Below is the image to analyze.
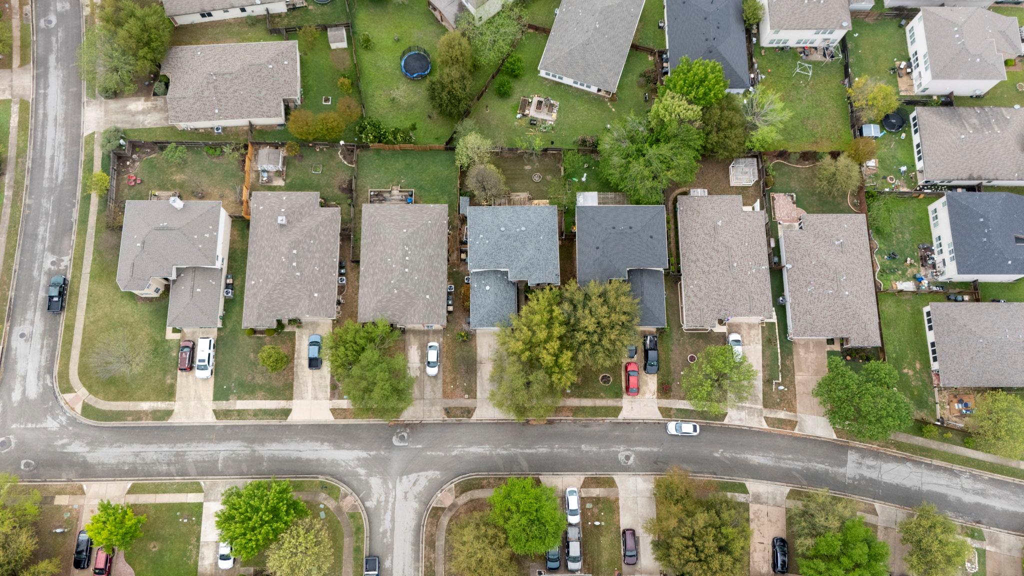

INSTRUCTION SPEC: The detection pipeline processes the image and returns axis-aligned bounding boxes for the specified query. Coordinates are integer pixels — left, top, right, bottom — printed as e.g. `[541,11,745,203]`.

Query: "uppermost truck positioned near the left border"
[47,275,69,315]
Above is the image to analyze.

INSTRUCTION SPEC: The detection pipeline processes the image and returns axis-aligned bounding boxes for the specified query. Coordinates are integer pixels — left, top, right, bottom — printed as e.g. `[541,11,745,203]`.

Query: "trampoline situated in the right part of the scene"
[886,106,914,132]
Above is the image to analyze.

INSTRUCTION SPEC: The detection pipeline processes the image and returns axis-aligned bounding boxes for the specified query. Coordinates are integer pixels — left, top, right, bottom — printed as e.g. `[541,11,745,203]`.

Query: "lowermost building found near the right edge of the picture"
[920,302,1024,388]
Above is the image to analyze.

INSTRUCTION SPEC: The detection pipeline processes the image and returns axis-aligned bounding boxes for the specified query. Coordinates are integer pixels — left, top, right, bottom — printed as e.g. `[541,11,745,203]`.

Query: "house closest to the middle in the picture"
[467,205,561,330]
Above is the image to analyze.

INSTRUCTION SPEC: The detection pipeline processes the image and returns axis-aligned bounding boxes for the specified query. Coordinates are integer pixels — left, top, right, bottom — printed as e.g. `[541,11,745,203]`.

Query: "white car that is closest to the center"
[424,342,441,377]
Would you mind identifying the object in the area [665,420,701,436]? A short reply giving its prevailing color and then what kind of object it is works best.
white car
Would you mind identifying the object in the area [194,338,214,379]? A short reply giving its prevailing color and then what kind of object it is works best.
white car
